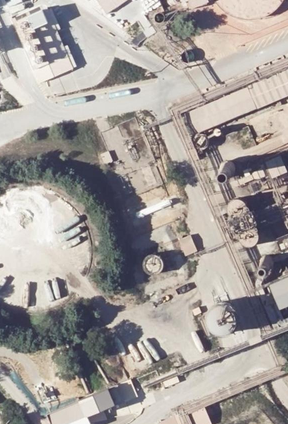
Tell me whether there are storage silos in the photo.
Yes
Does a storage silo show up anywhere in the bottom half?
Yes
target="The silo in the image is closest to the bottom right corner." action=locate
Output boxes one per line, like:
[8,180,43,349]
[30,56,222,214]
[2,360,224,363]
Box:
[205,297,238,336]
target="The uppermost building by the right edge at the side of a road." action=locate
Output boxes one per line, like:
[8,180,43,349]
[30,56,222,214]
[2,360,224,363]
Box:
[189,70,288,132]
